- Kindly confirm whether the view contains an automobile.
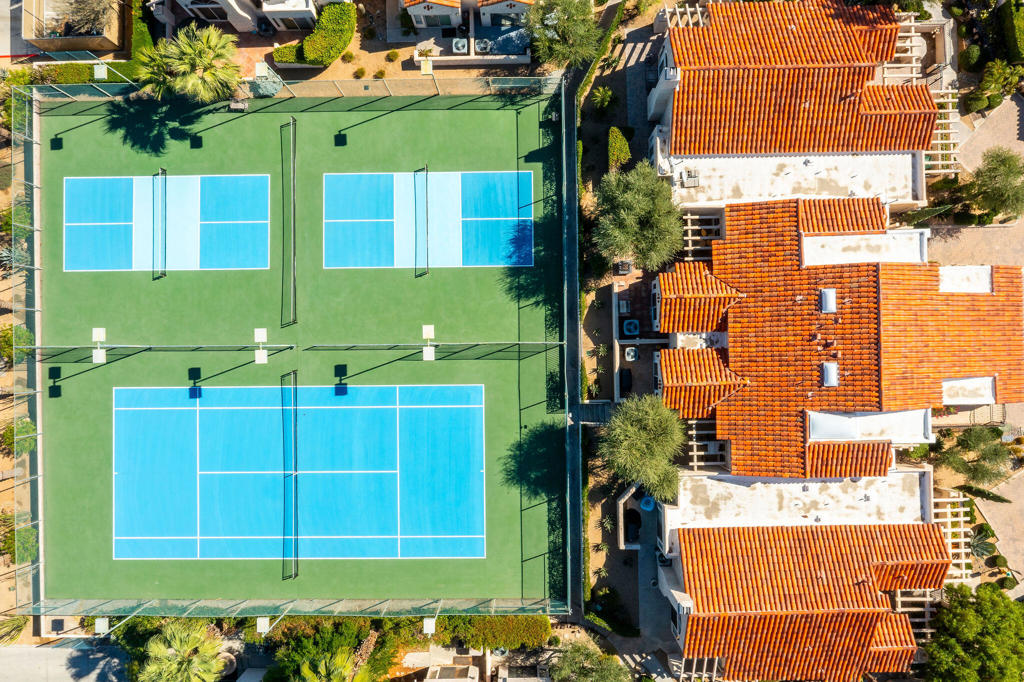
No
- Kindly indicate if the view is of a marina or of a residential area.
residential area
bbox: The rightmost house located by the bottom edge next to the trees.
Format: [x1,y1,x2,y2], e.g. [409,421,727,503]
[649,458,952,682]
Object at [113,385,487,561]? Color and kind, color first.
blue tennis court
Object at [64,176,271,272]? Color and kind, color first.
blue sports court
